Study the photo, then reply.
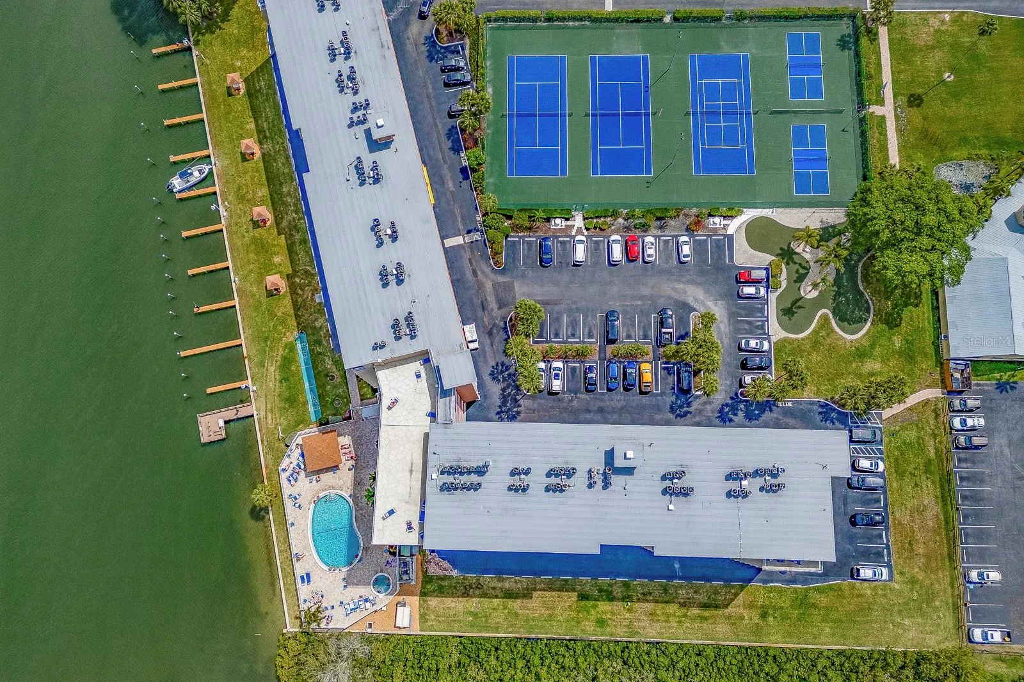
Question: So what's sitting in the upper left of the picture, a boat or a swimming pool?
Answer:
boat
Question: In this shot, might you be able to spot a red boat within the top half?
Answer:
No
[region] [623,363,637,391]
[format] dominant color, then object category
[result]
blue car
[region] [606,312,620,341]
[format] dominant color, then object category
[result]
blue vehicle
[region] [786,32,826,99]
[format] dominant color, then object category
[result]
blue sports court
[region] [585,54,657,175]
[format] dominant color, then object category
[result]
blue tennis court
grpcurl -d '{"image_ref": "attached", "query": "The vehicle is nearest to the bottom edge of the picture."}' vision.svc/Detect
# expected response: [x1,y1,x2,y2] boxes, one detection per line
[970,628,1010,644]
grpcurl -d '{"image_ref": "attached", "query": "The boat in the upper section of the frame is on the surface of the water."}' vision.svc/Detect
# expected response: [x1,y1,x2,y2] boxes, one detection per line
[165,166,211,193]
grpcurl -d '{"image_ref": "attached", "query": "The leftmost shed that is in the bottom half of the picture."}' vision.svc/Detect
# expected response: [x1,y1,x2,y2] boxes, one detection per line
[302,430,343,472]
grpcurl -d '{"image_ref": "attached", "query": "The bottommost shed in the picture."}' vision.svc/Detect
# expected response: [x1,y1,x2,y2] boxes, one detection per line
[395,605,411,630]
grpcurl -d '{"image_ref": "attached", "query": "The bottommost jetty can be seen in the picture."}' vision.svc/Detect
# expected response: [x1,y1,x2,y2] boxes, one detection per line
[196,403,253,443]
